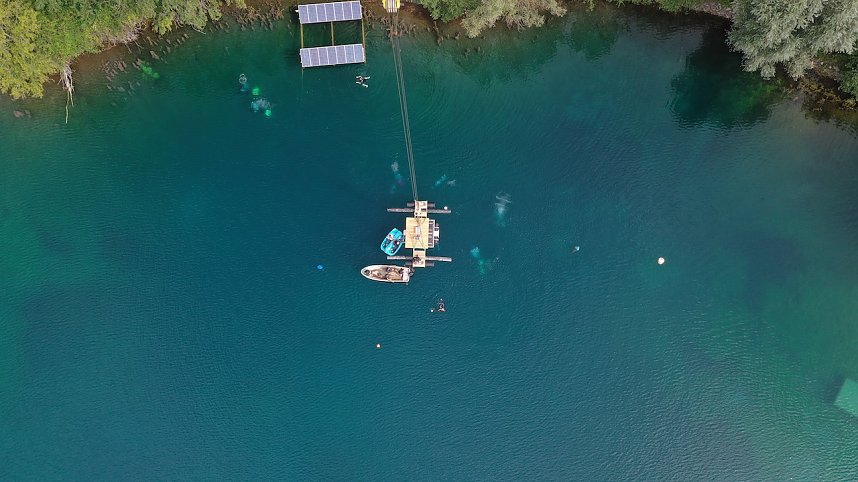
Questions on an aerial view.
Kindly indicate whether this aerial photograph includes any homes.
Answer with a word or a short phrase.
No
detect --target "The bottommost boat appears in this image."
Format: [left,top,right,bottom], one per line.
[360,265,414,282]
